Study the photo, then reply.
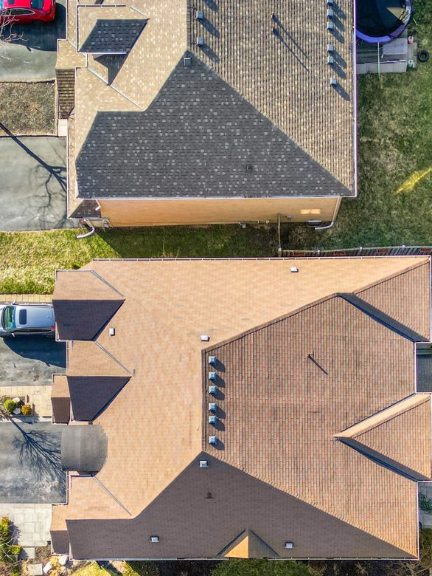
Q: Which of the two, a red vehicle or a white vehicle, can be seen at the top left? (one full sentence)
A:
The one visible at the top left is a red vehicle.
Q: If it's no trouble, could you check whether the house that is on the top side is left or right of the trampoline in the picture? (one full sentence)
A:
It is on the left side of the trampoline that the house that is on the top side is positioned.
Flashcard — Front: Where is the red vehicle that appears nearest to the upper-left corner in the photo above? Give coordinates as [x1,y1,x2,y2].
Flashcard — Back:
[0,0,54,30]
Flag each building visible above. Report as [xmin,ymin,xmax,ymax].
[50,255,432,561]
[54,0,356,237]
